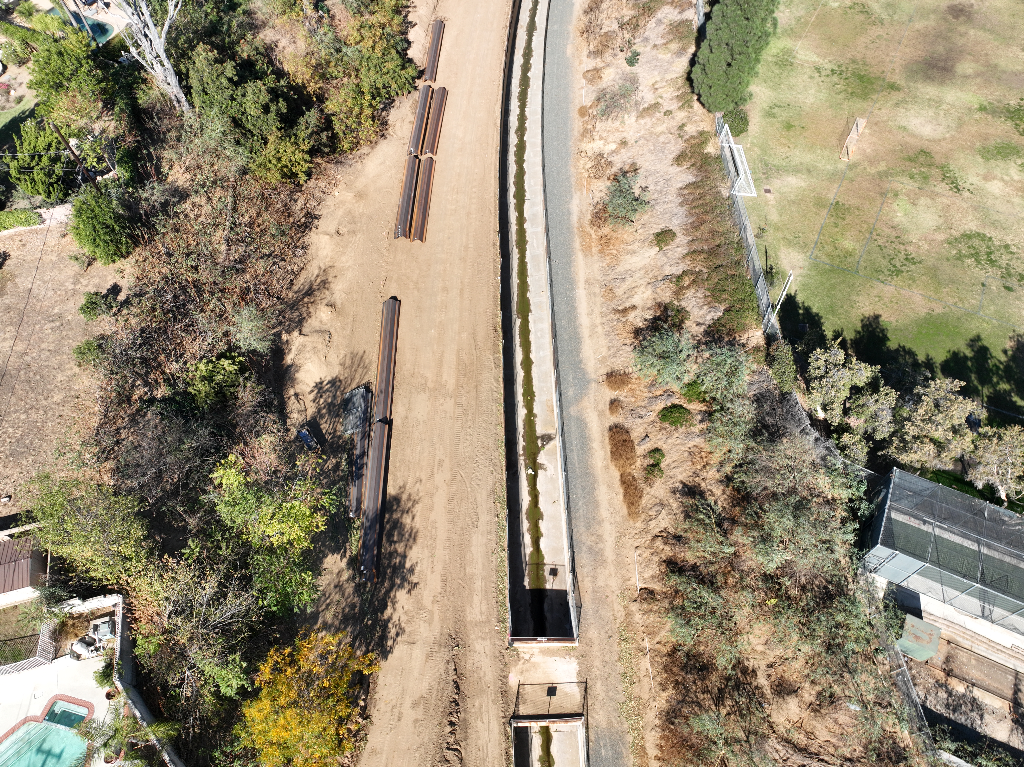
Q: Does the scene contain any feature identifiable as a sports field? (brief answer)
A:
Yes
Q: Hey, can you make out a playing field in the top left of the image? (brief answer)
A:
No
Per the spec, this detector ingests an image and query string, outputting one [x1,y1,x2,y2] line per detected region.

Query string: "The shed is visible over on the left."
[0,532,49,598]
